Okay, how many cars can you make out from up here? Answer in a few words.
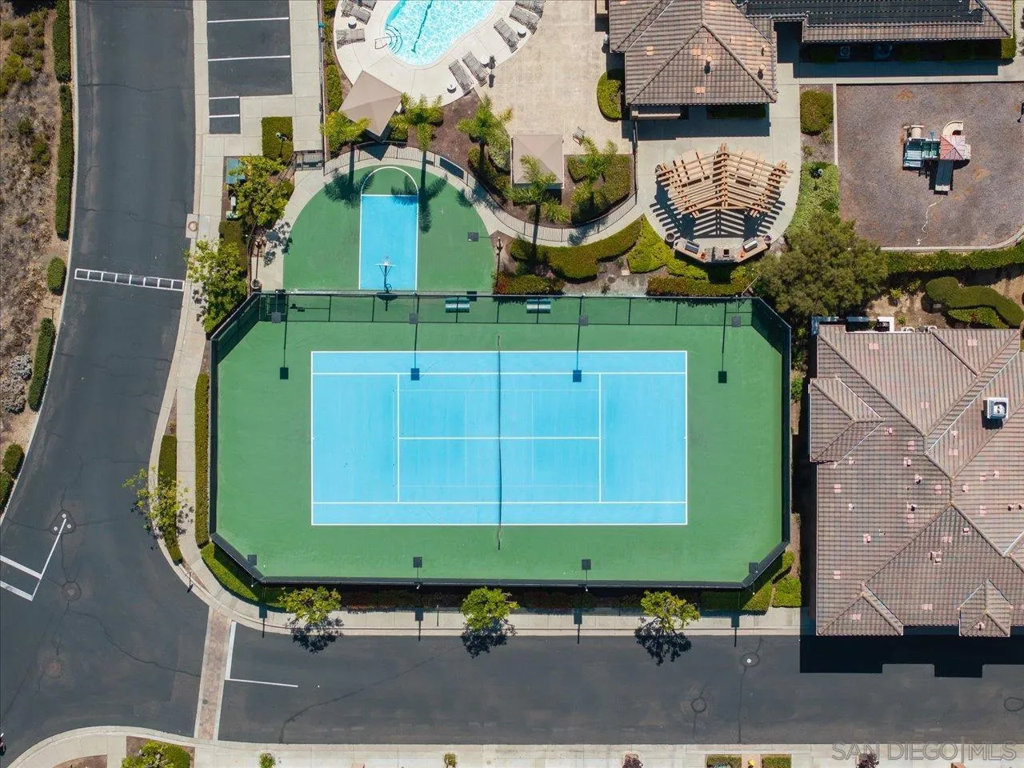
0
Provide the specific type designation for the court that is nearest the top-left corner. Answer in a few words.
basketball court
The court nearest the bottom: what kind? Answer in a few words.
tennis court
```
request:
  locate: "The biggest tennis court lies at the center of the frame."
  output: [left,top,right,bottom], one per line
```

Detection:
[217,295,782,577]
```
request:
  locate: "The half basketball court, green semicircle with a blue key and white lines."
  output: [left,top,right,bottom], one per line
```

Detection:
[284,165,495,290]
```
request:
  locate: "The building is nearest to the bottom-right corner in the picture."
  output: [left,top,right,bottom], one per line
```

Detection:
[798,324,1024,638]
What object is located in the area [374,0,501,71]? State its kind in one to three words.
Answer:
swimming pool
